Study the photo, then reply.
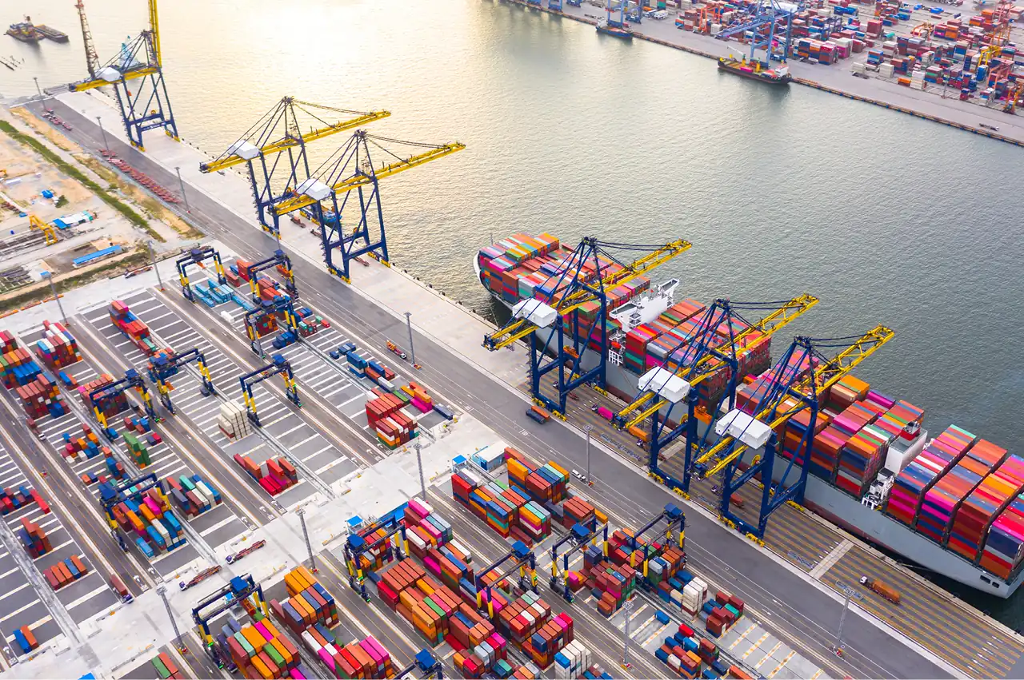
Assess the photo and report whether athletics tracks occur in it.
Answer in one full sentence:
No, no athletics track can be seen from above.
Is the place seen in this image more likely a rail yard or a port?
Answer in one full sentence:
This looks like a port.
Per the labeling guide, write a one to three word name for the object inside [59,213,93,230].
shed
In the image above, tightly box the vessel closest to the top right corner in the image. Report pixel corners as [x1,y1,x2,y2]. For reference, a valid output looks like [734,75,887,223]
[708,39,792,88]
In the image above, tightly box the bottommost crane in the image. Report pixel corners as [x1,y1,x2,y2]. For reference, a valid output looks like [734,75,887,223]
[351,627,424,680]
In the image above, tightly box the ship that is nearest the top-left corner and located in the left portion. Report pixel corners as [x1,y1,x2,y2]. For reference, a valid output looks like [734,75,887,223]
[7,13,55,41]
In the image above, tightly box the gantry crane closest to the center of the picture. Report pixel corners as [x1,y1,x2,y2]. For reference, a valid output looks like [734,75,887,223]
[479,231,694,423]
